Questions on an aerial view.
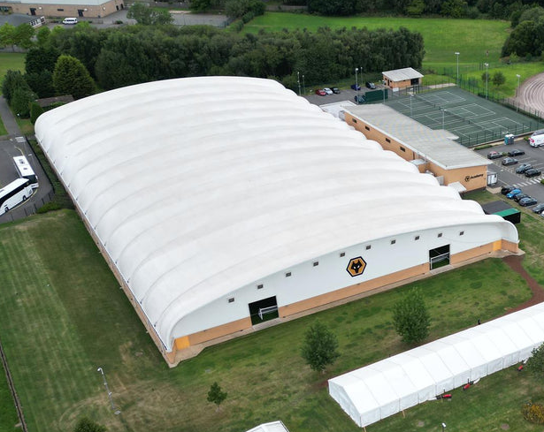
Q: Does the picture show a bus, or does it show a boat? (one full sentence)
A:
Visible in the photo is a bus.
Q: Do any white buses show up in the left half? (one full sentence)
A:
Yes, a white bus is visible in the left half.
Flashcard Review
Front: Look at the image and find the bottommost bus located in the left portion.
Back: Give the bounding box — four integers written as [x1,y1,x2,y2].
[0,179,40,213]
